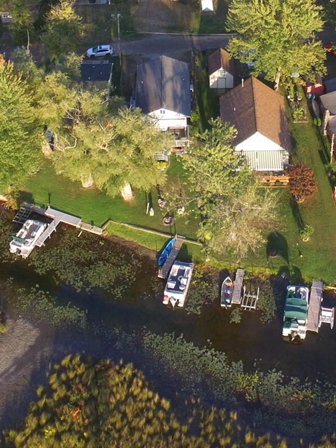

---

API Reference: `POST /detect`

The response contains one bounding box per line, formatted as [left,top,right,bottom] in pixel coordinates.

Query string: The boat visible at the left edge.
[9,220,45,257]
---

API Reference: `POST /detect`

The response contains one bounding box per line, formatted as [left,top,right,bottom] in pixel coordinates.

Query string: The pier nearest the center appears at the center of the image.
[158,238,185,277]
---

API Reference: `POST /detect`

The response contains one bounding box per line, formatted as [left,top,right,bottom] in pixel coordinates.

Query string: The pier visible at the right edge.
[305,281,323,338]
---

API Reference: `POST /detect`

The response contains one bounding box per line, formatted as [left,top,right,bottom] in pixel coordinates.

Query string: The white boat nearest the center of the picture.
[163,260,194,305]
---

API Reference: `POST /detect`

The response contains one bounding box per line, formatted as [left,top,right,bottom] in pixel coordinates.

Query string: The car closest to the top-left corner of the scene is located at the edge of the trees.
[87,42,114,58]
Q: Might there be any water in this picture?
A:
Yes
